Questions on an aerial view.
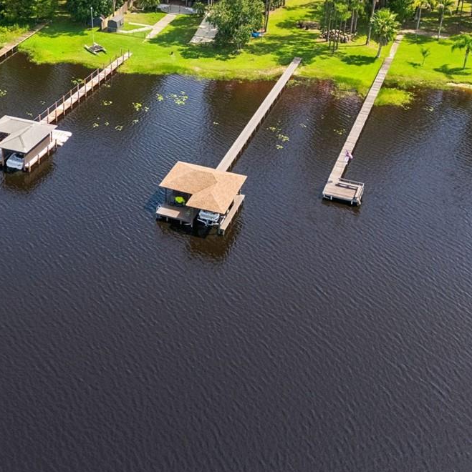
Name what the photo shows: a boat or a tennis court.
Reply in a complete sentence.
This aerial view contains a boat.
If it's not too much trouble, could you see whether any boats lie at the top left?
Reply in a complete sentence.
Yes, there is a boat at the top left.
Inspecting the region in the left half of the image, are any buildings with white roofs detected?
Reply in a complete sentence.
Yes, a building with a white roof shows up in the left half of the image.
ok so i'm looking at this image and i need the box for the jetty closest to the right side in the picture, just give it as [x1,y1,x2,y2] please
[322,53,398,211]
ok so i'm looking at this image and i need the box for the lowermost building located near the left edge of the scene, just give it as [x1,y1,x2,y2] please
[0,114,65,177]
